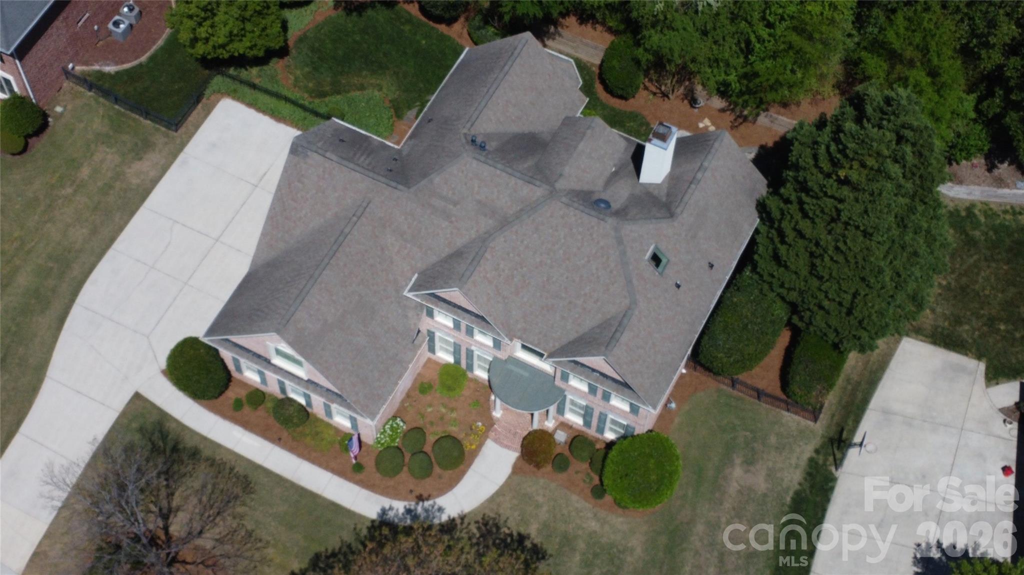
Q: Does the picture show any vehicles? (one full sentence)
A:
No, the frame has no vehicle in it.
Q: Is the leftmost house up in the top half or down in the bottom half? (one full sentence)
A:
You can find the leftmost house in the top half.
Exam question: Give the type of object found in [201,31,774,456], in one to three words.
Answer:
house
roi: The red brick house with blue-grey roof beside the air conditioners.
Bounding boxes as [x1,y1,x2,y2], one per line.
[0,0,125,103]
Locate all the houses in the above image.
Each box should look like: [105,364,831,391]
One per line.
[201,31,774,456]
[0,0,125,103]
